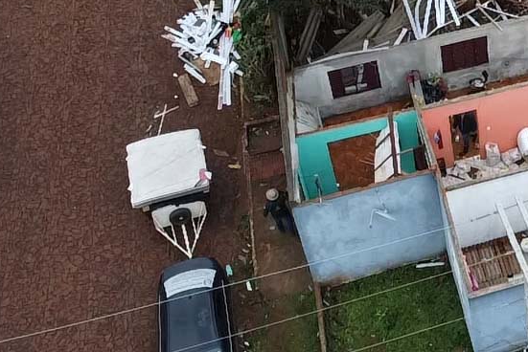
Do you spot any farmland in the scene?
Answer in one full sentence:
No, no farmland is visible.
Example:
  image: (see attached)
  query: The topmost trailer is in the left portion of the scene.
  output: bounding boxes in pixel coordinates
[121,121,210,251]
